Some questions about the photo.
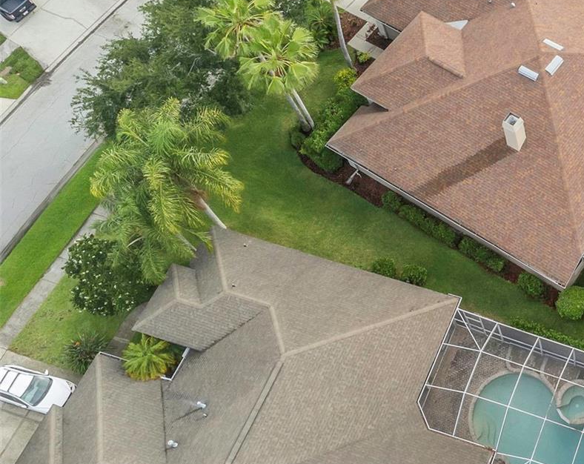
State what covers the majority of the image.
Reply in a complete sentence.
What you mostly see from above here is buildings.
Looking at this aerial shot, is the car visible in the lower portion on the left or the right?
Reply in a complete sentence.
You can find the car visible in the lower portion on the left side of the picture.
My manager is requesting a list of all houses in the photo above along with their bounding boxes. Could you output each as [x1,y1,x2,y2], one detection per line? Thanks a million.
[326,0,584,293]
[15,225,494,464]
